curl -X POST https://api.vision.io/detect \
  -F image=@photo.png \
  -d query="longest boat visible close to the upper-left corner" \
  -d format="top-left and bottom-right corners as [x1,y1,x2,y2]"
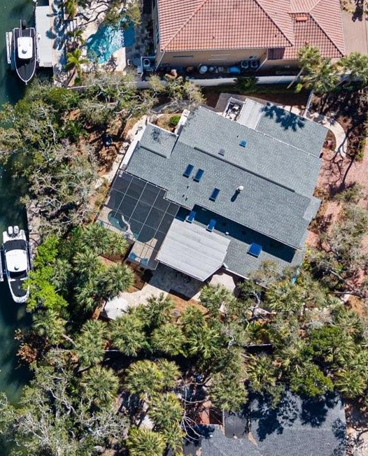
[14,21,36,84]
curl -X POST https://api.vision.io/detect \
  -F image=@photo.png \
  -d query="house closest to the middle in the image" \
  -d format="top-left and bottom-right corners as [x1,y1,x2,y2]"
[112,98,328,297]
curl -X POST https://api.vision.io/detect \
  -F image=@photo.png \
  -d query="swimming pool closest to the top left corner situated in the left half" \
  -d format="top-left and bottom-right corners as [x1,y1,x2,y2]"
[85,13,138,67]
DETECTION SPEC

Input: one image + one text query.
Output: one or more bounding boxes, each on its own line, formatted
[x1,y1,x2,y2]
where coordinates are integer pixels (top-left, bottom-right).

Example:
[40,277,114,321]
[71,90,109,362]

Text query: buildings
[182,391,346,456]
[112,98,328,297]
[152,0,345,70]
